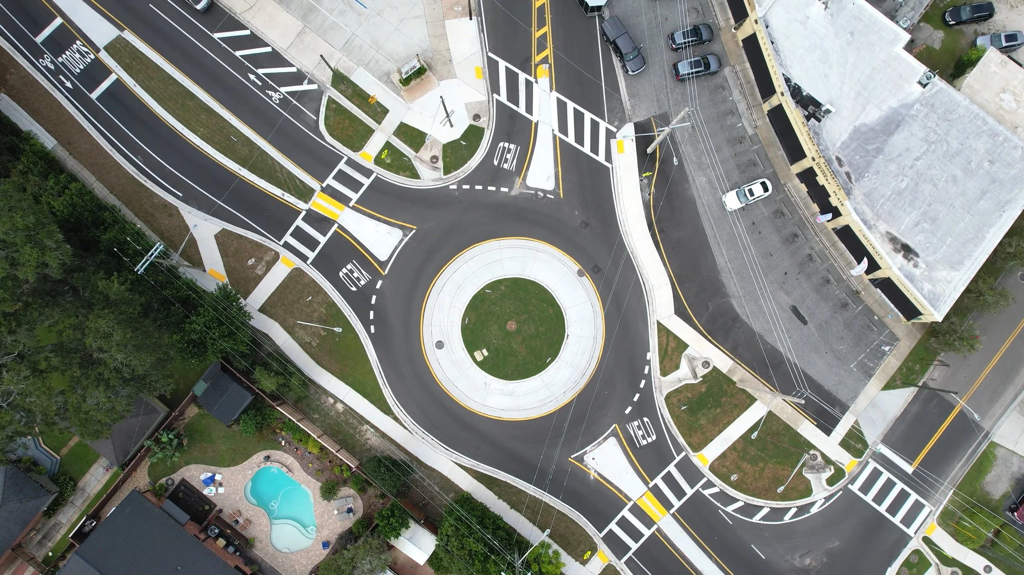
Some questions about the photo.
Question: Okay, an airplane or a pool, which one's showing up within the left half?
pool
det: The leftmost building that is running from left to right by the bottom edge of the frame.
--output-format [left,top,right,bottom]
[60,480,269,575]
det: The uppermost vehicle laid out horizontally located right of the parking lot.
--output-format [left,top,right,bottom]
[941,0,997,29]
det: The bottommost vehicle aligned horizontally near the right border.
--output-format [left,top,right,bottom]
[974,29,1024,53]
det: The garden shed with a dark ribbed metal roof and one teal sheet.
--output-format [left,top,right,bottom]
[191,365,258,425]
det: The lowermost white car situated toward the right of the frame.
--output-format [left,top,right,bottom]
[720,179,775,210]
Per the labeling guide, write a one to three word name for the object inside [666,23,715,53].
car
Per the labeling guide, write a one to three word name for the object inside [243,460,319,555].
swimming pool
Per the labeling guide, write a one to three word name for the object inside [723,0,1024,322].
building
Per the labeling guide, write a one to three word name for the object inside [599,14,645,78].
truck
